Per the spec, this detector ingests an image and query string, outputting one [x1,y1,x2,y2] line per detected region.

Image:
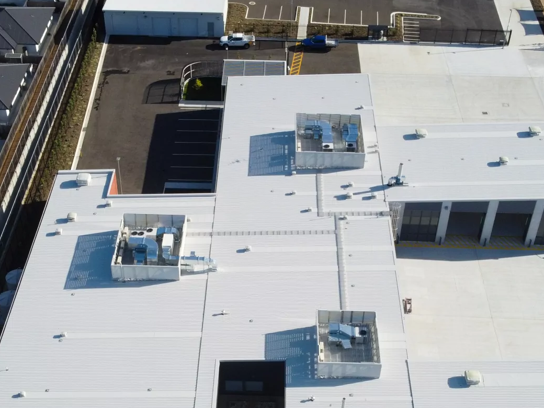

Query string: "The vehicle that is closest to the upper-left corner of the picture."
[222,35,256,51]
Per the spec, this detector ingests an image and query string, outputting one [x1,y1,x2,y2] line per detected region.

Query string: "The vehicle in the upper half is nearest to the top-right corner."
[302,36,338,51]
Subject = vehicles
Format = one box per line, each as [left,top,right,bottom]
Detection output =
[302,36,338,51]
[222,35,256,51]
